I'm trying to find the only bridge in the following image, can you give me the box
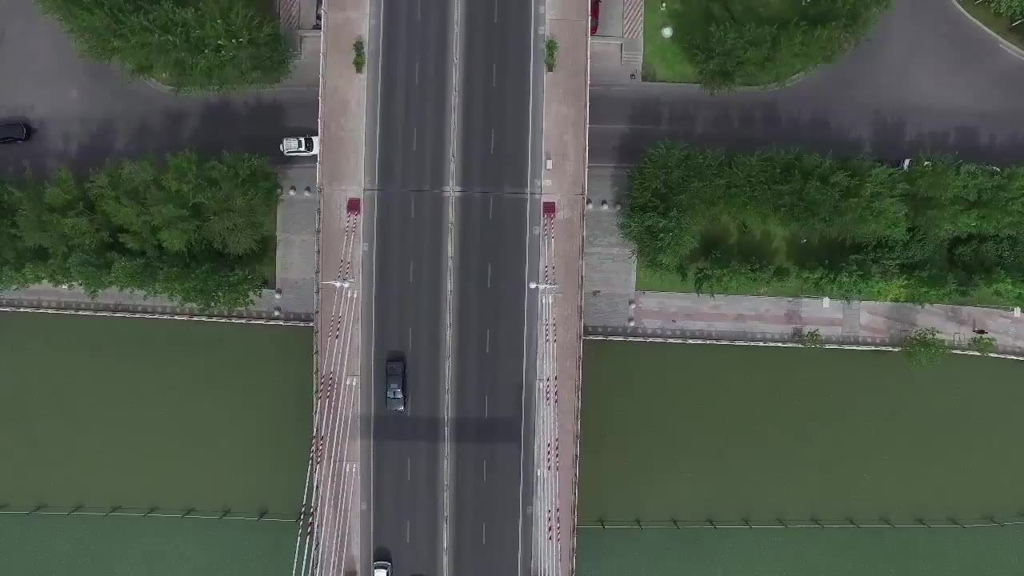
[291,0,592,576]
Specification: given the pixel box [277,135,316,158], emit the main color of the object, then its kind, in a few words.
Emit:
white car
